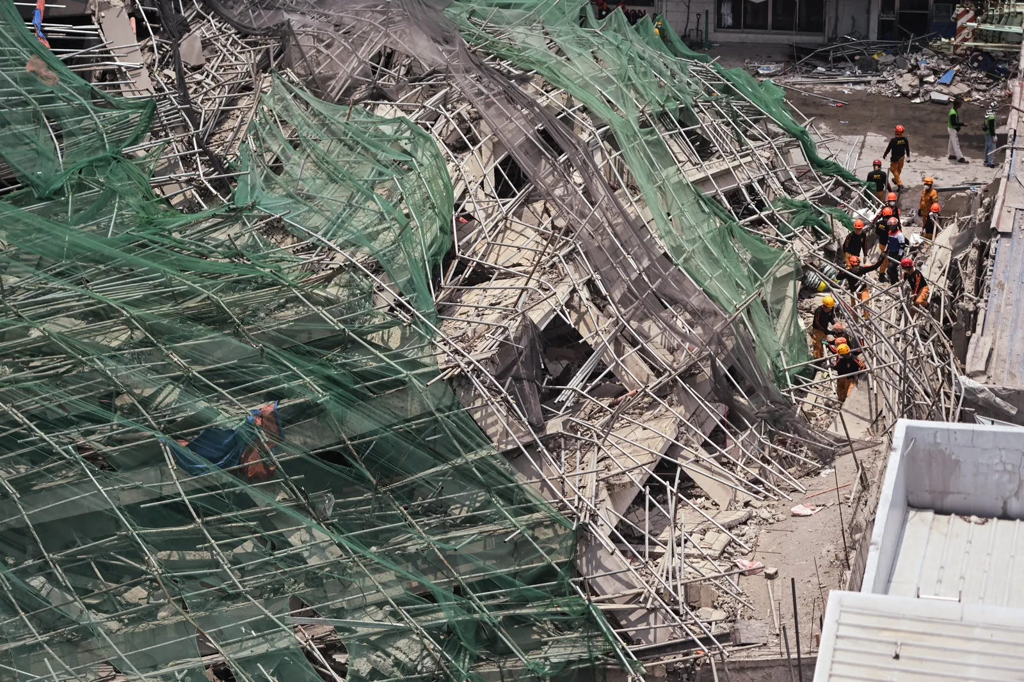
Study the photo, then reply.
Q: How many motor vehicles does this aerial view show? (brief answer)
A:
none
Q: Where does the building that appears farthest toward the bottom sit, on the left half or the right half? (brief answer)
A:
right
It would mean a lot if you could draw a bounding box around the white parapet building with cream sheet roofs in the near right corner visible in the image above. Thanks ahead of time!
[814,419,1024,682]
